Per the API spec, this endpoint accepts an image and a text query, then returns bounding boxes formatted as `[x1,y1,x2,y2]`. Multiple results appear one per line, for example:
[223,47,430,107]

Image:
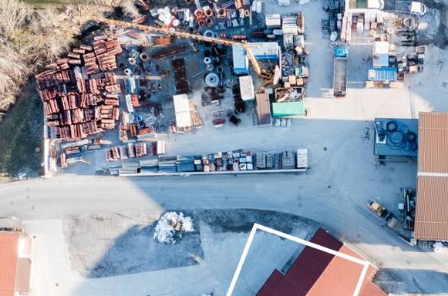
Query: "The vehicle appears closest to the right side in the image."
[395,1,426,15]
